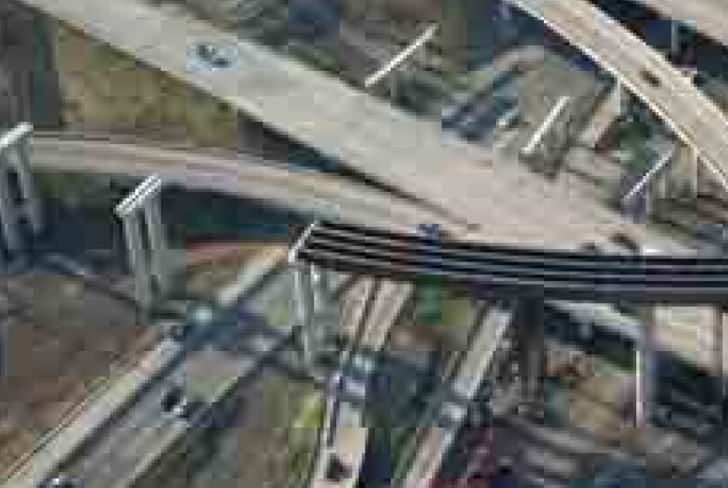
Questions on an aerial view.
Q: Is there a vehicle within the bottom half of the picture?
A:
Yes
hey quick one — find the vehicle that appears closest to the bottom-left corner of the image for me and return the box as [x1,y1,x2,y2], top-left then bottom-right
[45,469,76,488]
